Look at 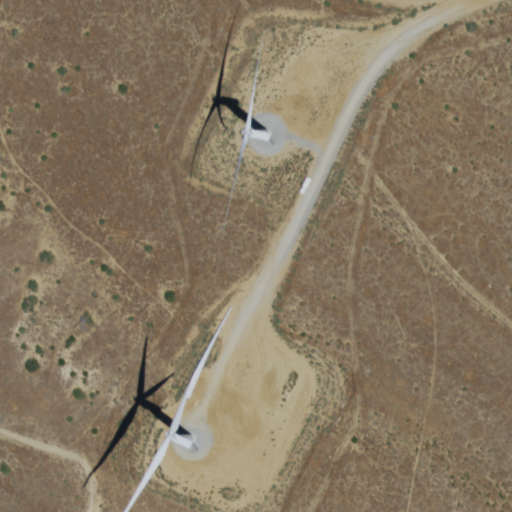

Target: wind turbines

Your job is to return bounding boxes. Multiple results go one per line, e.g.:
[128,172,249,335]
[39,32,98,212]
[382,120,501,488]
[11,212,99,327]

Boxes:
[136,353,214,512]
[236,24,277,219]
